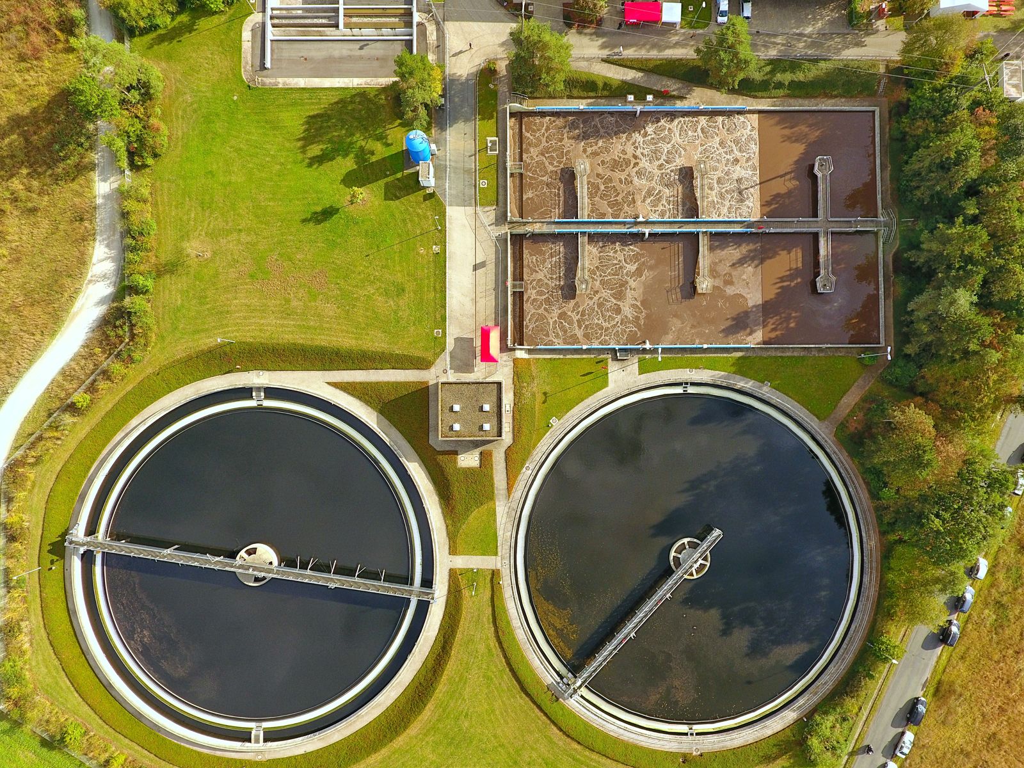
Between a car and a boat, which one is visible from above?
car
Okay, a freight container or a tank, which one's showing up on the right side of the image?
tank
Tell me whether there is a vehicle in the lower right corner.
Yes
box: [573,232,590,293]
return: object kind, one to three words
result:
pier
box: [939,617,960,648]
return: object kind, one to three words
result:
car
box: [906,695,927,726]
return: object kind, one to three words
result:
car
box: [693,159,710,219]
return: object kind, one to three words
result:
pier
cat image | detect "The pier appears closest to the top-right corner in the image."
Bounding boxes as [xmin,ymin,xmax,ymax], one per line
[812,156,832,221]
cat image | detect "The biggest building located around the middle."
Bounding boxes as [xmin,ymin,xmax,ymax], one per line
[440,378,504,440]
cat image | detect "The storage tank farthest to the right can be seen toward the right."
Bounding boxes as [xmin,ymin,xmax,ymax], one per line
[499,370,881,752]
